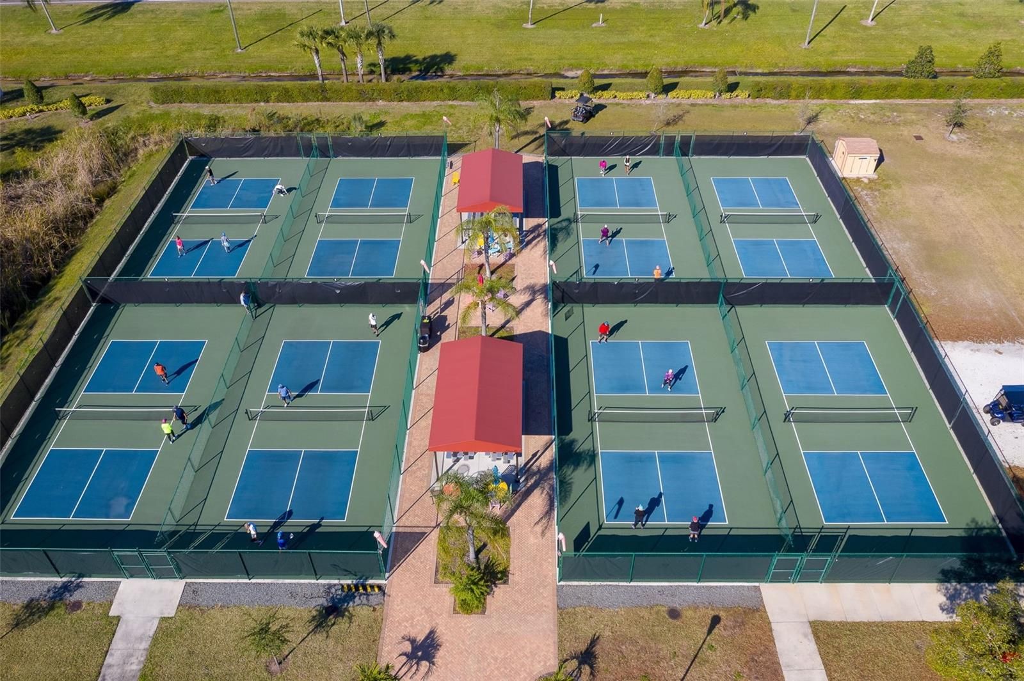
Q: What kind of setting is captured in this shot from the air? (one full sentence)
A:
This image shows a sports ground.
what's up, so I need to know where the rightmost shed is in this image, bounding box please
[831,133,883,176]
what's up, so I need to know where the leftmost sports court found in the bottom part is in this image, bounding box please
[0,304,261,574]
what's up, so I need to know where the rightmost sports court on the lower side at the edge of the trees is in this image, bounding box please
[717,305,1020,580]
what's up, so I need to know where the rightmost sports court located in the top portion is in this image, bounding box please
[676,157,883,305]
